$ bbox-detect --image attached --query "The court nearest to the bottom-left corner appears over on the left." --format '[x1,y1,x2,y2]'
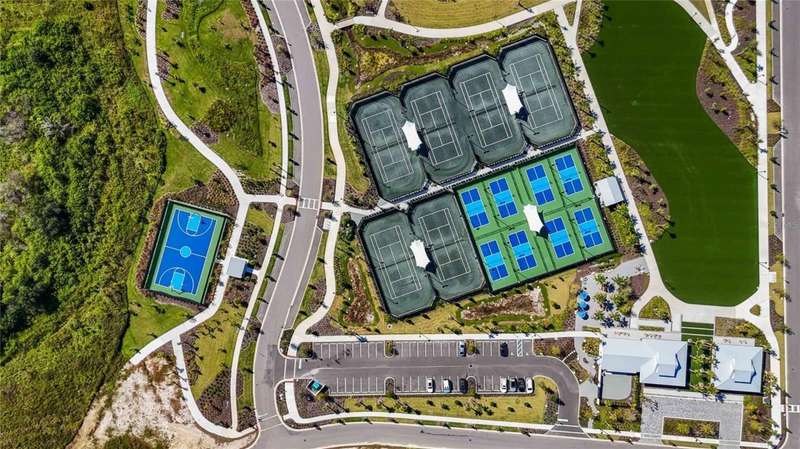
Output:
[146,201,227,303]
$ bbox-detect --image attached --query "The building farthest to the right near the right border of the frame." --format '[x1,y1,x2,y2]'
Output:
[714,345,764,390]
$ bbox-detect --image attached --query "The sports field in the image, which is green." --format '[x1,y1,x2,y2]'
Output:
[588,0,759,305]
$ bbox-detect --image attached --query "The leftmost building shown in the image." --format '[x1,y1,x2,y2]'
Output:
[227,256,248,278]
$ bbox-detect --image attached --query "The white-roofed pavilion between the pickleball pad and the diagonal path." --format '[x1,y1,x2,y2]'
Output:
[591,176,624,205]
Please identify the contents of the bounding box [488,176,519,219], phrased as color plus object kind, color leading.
blue sports court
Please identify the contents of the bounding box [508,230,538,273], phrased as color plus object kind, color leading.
blue sports court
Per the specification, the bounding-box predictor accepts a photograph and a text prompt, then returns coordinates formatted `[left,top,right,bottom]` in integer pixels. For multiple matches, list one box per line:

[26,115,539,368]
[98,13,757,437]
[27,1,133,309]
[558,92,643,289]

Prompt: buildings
[602,335,688,387]
[591,176,624,205]
[714,345,764,390]
[227,256,248,278]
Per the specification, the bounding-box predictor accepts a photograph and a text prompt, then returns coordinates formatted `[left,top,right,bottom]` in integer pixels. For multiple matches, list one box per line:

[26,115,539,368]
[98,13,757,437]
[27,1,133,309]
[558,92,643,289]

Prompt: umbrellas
[577,300,588,309]
[577,309,588,319]
[577,290,588,300]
